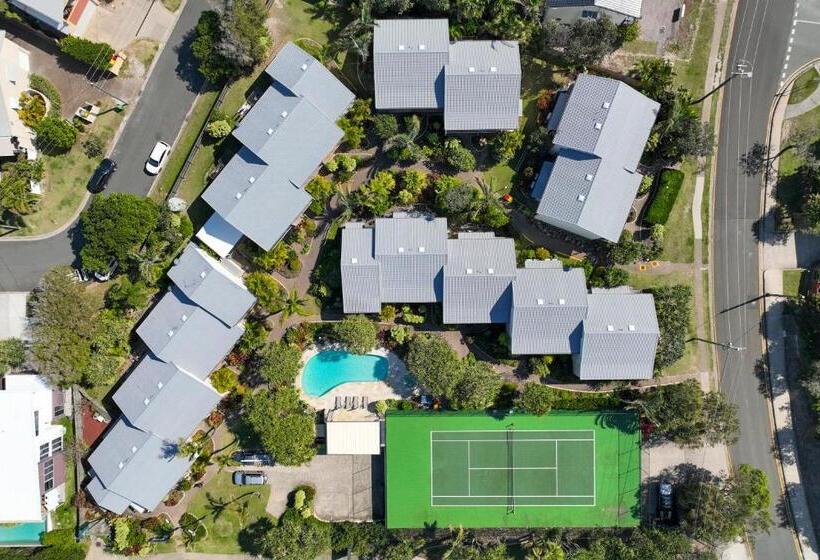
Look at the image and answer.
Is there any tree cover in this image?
Yes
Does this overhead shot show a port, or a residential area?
residential area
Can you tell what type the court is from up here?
tennis court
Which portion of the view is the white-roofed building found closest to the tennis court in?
bottom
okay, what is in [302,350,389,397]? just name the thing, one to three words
swimming pool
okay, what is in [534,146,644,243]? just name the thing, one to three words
house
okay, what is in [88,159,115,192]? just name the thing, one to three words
car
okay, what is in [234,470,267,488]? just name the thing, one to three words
car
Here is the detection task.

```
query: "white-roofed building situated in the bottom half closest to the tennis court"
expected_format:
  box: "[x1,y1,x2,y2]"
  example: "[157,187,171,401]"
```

[328,418,380,454]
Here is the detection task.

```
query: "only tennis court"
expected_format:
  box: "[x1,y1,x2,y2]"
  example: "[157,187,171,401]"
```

[385,409,650,539]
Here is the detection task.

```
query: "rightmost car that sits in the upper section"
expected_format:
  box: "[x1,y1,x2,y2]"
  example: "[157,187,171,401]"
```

[147,142,171,174]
